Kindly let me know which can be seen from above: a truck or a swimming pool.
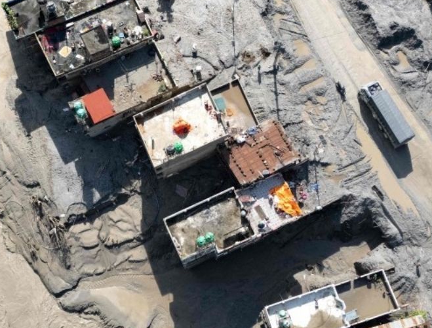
truck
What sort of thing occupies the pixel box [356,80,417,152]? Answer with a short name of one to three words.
truck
